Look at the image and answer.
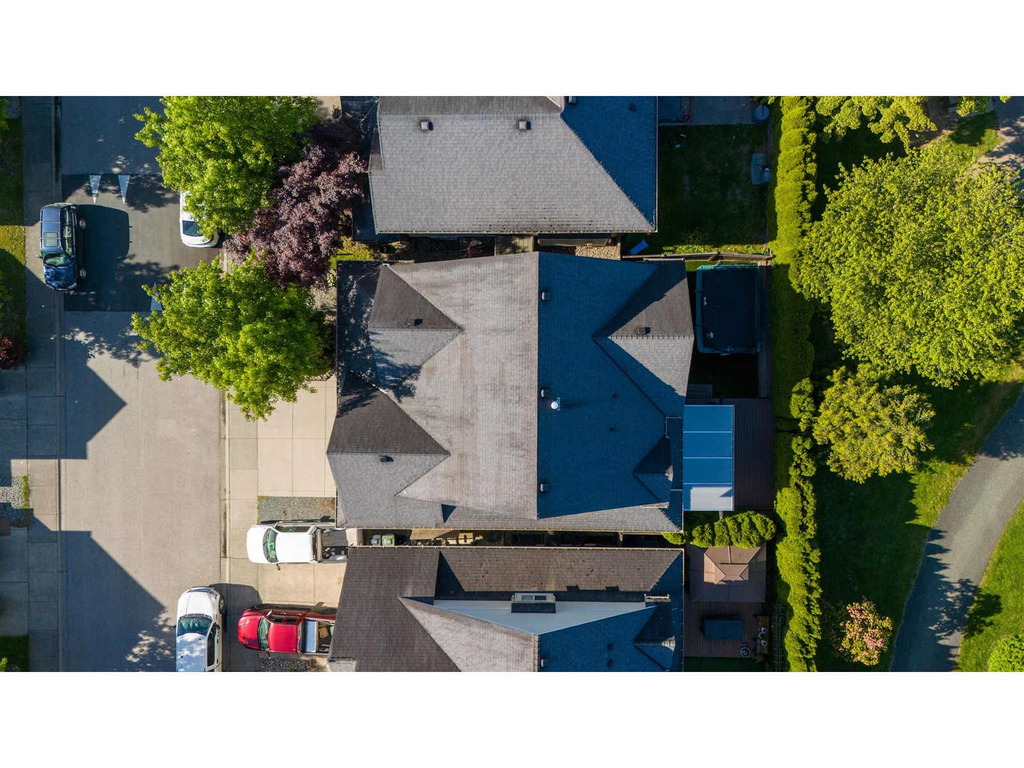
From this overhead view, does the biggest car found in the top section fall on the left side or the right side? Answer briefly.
left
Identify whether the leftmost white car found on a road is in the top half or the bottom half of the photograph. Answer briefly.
bottom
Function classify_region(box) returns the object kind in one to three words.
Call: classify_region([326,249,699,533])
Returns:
house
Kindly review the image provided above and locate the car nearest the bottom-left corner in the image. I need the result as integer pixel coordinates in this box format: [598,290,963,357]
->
[176,588,226,683]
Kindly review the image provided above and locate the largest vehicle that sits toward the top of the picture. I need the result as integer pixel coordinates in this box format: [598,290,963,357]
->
[36,205,88,290]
